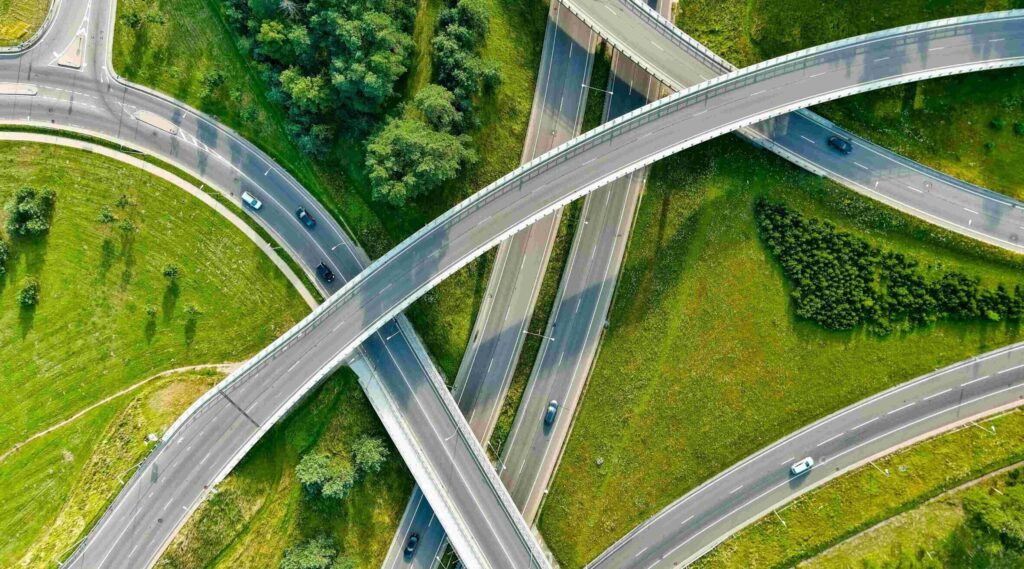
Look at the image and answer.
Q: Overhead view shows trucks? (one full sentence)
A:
No, no truck can be seen from above.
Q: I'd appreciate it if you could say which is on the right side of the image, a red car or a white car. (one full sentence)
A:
It is a white car that can be seen on the right side of the image.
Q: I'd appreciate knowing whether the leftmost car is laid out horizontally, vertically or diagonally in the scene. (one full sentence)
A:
In this picture, the leftmost car lies diagonally.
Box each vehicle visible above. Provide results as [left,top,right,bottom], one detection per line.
[239,190,263,211]
[827,136,853,154]
[790,457,814,475]
[544,400,558,425]
[315,261,335,283]
[404,534,420,558]
[295,206,318,229]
